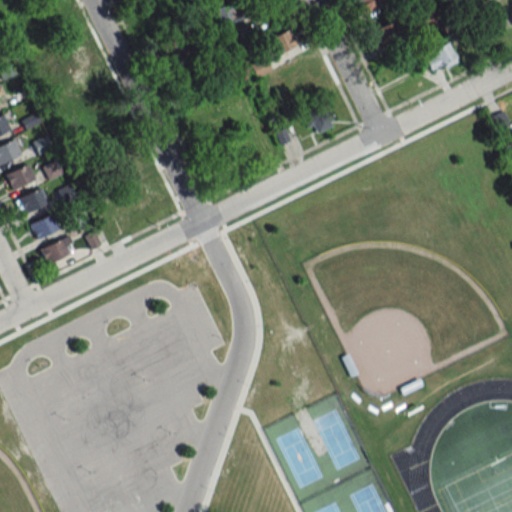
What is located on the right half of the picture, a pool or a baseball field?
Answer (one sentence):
The one visible on the right half of the picture is a baseball field.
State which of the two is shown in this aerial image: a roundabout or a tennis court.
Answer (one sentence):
Of the two, only a tennis court appears.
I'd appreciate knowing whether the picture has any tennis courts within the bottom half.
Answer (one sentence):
Yes, within the bottom half there is a tennis court.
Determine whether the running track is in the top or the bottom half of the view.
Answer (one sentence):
The running track is in the bottom half of the image.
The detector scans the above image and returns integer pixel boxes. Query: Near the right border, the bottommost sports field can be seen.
[432,402,512,512]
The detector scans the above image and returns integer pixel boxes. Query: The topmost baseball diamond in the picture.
[304,241,508,396]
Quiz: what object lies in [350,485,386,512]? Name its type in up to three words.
tennis court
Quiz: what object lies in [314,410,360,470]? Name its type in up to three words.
tennis court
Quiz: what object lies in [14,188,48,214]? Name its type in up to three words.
house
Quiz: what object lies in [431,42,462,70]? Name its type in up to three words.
house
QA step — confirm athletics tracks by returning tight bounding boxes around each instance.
[391,378,512,512]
